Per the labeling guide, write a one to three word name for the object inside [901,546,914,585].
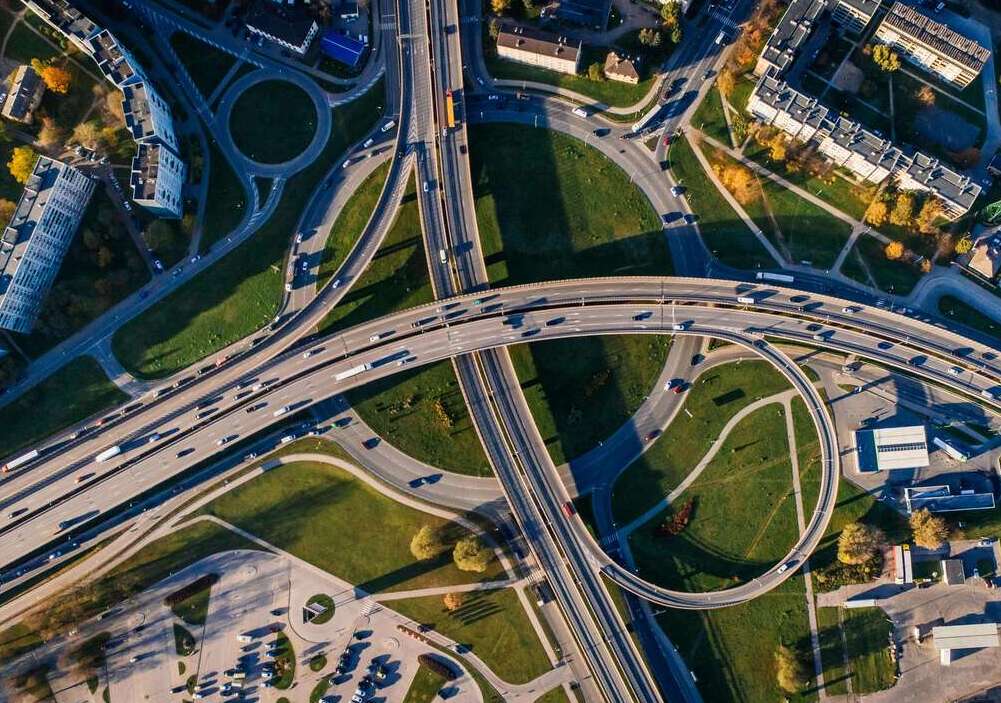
vehicle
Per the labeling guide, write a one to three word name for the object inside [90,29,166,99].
building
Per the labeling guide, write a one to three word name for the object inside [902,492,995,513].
building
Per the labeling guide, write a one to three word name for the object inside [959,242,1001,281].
house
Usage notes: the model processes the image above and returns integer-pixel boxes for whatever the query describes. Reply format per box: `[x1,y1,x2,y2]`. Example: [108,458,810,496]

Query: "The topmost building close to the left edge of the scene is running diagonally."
[25,0,103,59]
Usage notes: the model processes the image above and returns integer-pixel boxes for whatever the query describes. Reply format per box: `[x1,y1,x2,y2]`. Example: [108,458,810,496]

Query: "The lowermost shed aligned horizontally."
[926,619,1000,649]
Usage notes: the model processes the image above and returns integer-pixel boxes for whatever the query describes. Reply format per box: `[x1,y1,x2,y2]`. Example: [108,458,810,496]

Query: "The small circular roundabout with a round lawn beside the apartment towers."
[216,67,330,179]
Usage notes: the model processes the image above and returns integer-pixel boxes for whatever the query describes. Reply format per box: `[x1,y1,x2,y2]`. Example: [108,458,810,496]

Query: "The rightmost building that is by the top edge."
[867,1,991,87]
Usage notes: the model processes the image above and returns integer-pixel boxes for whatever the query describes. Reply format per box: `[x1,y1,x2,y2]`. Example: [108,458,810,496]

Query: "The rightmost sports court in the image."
[914,109,980,151]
